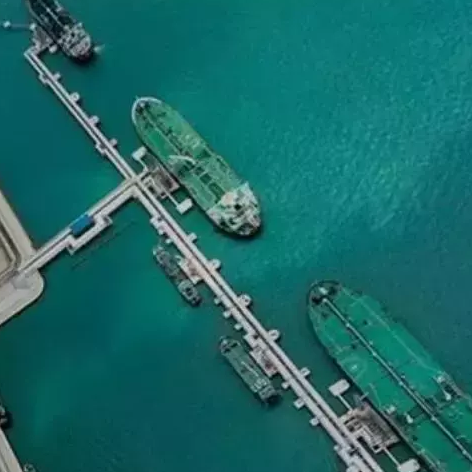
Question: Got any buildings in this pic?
Yes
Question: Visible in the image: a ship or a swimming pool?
ship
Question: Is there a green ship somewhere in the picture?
Yes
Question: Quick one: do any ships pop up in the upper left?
Yes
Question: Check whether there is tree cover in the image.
No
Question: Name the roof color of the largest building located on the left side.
blue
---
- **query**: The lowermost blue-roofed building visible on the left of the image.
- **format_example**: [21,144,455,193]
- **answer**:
[69,213,95,239]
